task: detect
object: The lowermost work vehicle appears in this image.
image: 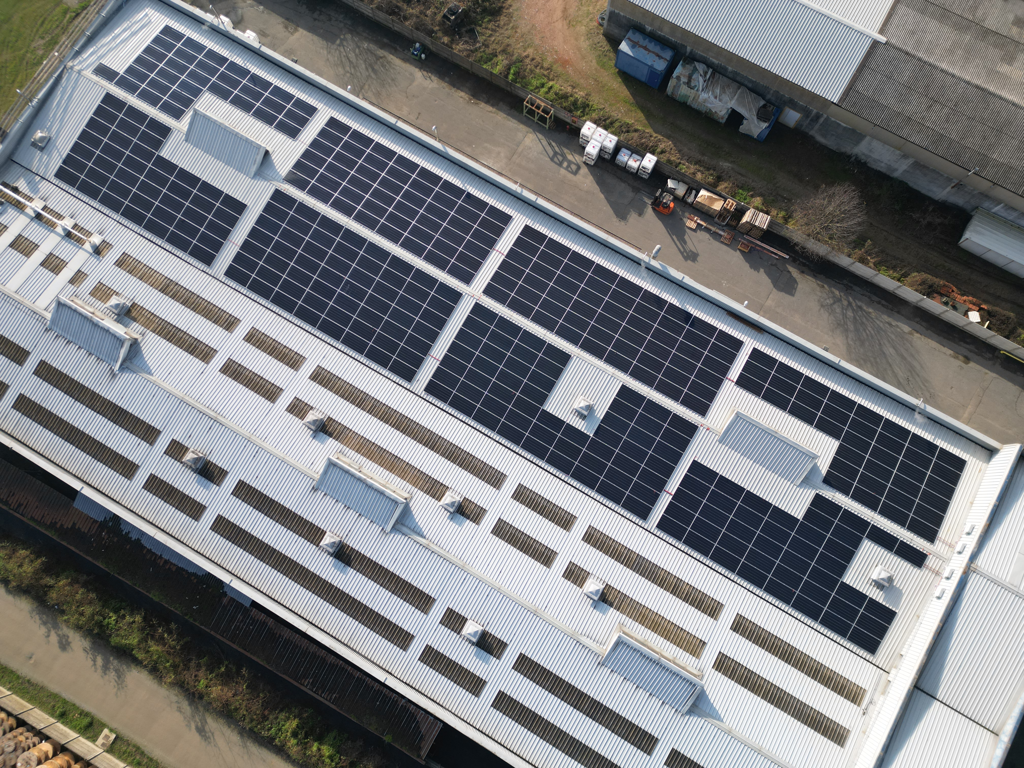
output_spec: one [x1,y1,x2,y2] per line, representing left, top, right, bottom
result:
[636,188,676,216]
